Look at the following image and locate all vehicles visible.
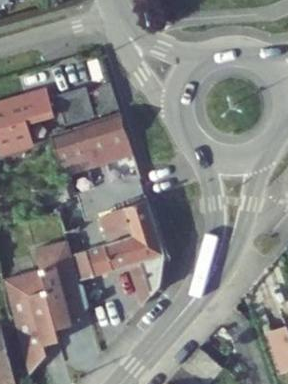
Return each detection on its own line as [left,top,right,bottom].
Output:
[180,83,196,106]
[174,342,196,363]
[94,305,108,326]
[74,62,87,84]
[149,376,164,384]
[121,270,134,294]
[147,168,171,180]
[87,58,103,83]
[190,232,218,298]
[212,51,236,63]
[104,301,120,325]
[52,66,66,90]
[64,64,78,85]
[22,72,46,86]
[151,180,173,192]
[196,146,210,168]
[257,48,278,59]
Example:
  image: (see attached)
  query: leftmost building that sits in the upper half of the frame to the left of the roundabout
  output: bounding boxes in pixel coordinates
[0,87,53,157]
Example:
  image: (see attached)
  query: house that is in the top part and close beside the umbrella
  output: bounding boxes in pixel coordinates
[54,112,133,176]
